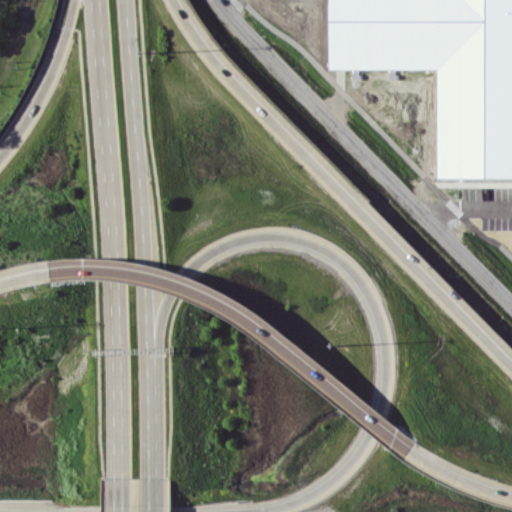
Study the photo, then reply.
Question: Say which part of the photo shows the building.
top right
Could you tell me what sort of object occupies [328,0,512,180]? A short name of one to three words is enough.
building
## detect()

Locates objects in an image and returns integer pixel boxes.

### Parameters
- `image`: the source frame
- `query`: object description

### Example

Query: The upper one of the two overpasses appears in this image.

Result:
[48,258,414,461]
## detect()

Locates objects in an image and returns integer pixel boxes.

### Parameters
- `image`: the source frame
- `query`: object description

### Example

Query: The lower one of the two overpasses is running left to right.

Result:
[102,478,172,512]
